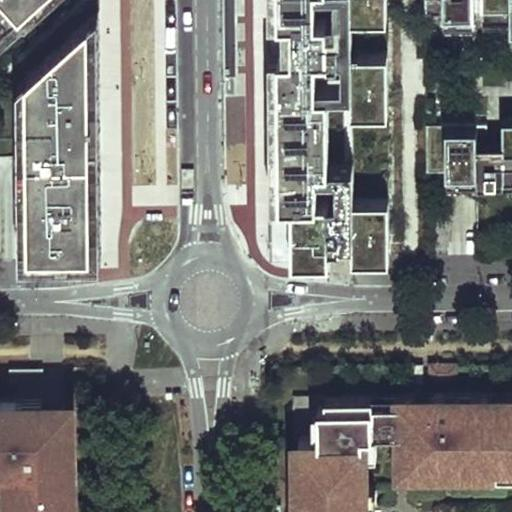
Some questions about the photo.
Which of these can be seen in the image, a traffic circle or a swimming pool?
traffic circle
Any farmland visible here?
No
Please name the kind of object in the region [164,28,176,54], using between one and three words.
vehicle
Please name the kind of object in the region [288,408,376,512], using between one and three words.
house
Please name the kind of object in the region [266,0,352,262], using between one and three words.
building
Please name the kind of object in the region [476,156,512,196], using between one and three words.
house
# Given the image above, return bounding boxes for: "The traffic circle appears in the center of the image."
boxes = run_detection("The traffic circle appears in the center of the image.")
[142,226,281,364]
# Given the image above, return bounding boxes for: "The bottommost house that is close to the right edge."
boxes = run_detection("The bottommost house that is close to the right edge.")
[392,405,512,490]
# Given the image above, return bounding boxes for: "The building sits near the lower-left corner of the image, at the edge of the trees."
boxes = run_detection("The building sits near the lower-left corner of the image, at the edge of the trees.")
[0,400,77,512]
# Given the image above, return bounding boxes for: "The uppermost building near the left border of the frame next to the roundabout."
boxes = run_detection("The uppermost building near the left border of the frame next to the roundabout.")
[15,32,101,280]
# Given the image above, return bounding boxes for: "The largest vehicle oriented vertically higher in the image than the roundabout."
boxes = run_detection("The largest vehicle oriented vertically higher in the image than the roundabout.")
[181,169,194,206]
